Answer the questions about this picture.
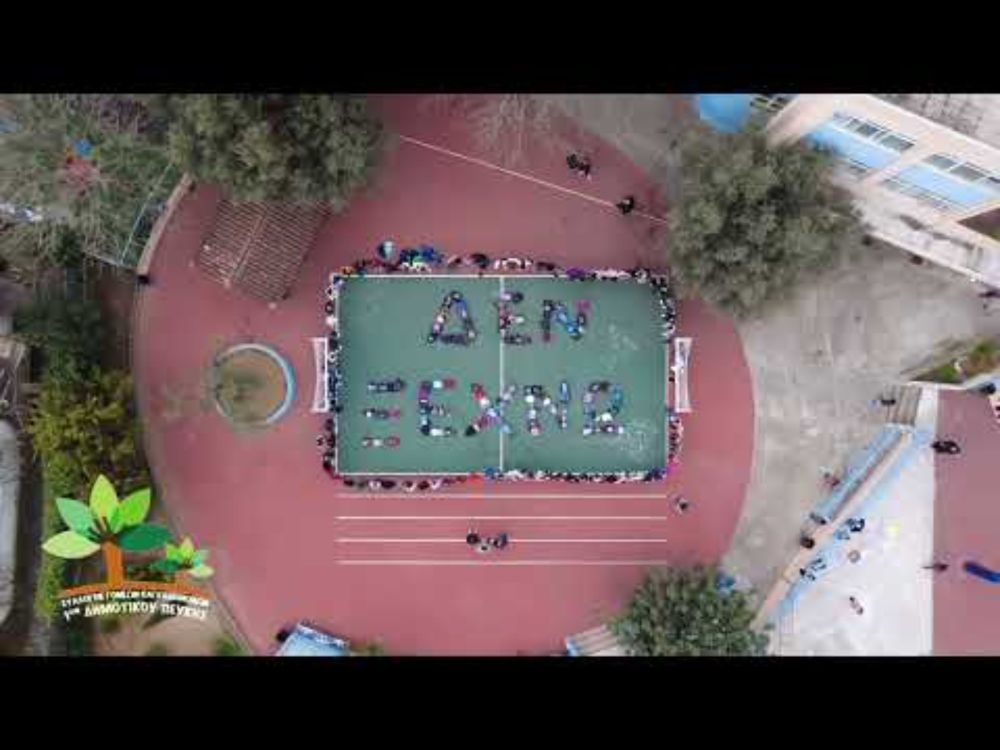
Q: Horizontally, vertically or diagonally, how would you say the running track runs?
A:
horizontally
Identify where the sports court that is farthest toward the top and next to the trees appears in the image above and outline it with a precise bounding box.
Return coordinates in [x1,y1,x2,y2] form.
[337,273,668,476]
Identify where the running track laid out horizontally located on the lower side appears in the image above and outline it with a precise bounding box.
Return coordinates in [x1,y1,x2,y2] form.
[337,494,667,563]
